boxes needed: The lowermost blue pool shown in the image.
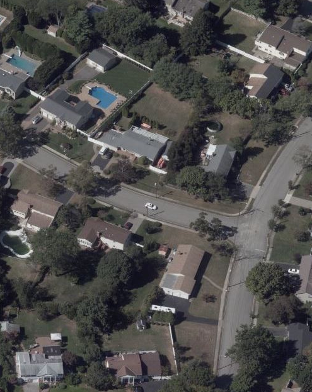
[87,85,118,110]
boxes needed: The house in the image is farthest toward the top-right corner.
[256,25,310,72]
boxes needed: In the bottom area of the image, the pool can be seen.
[1,233,32,256]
